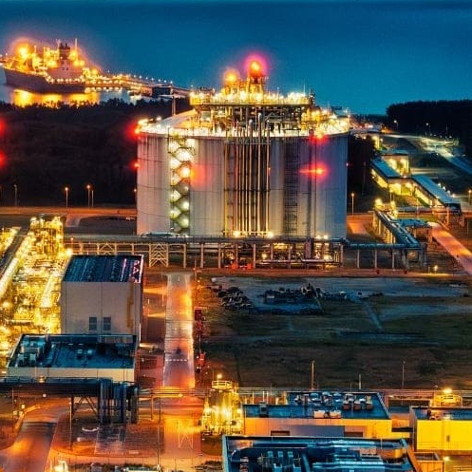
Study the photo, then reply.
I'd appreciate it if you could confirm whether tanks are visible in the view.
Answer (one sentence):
Yes, the frame does contain a tank.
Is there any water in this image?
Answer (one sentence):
Yes, the picture does contain water.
